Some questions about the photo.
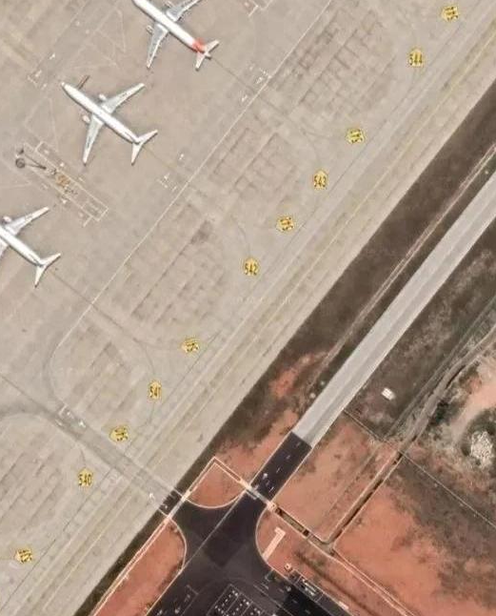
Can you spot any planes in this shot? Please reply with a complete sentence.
Yes, a plane can be made out from above.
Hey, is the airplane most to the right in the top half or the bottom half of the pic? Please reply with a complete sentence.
You can find the airplane most to the right in the top half.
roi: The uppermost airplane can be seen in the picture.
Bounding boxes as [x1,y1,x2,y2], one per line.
[132,0,218,69]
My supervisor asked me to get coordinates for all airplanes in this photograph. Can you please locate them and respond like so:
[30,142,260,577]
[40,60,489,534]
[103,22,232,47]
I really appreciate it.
[132,0,218,69]
[62,83,156,166]
[0,205,60,283]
